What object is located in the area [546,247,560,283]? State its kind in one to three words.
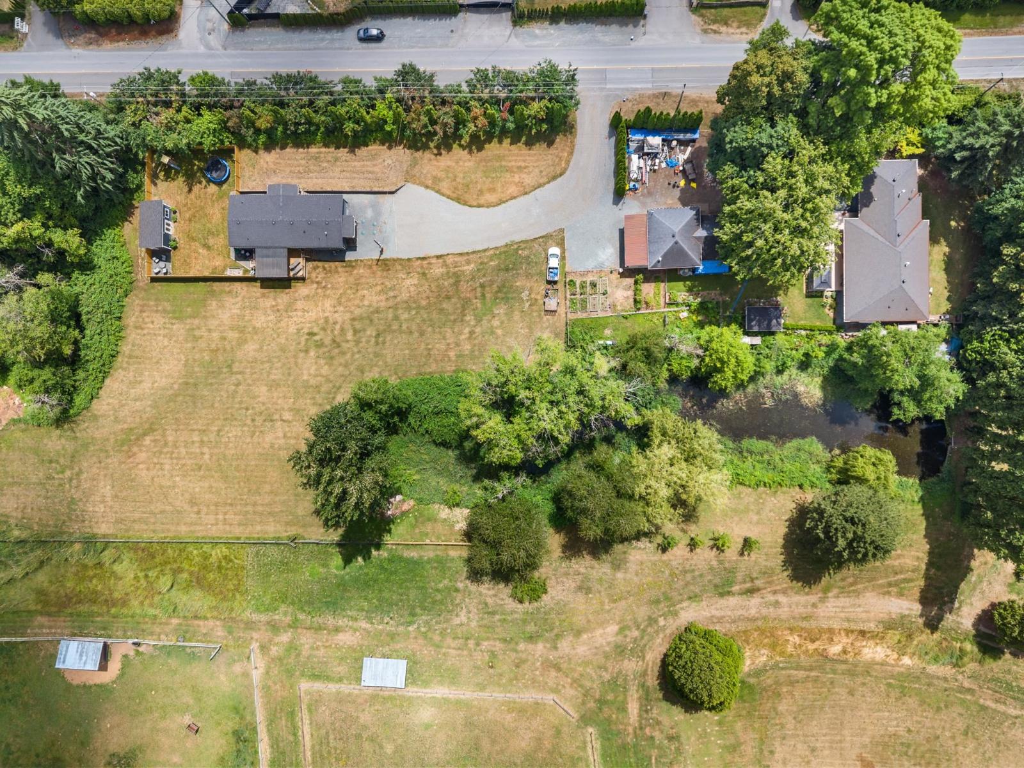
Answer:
vehicle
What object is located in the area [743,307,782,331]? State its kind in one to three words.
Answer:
shed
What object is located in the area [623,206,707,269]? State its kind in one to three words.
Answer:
building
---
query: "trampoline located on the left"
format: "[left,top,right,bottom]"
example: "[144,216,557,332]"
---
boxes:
[201,154,232,183]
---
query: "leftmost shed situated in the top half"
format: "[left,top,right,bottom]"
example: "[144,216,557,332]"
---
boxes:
[140,200,171,250]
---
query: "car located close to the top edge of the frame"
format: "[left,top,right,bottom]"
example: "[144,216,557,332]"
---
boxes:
[357,28,386,43]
